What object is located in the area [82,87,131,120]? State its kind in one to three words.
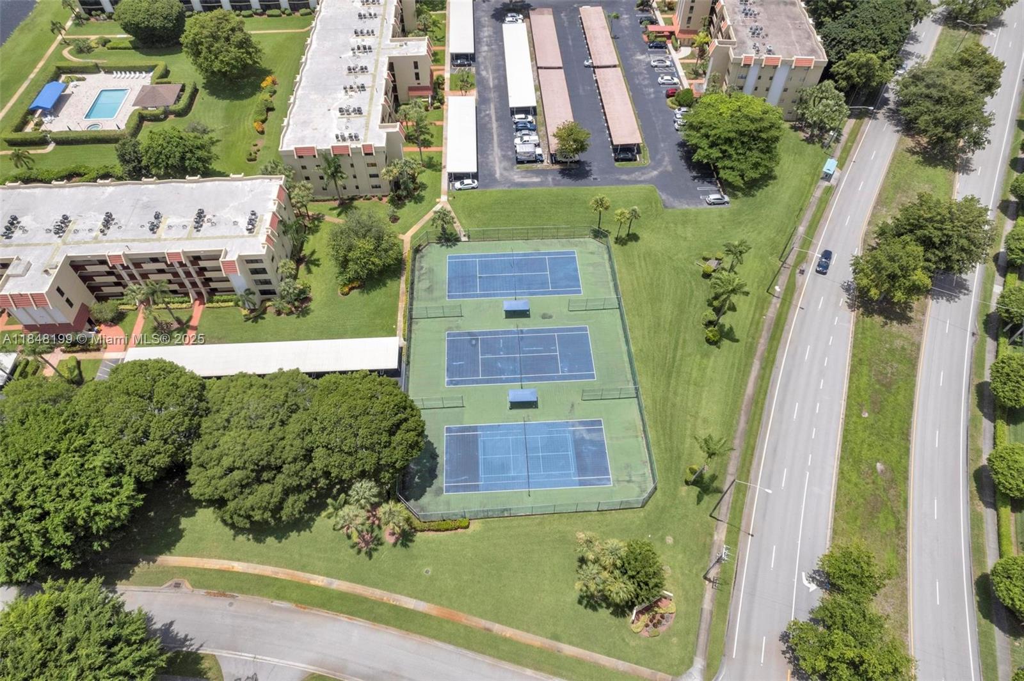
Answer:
swimming pool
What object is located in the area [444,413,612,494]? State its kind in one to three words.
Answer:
tennis court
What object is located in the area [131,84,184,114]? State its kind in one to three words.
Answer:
building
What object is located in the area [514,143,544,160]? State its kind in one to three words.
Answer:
vehicle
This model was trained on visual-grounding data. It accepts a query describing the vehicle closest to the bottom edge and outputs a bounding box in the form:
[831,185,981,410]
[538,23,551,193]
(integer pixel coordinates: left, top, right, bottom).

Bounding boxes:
[816,250,834,275]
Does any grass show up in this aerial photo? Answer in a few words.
Yes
